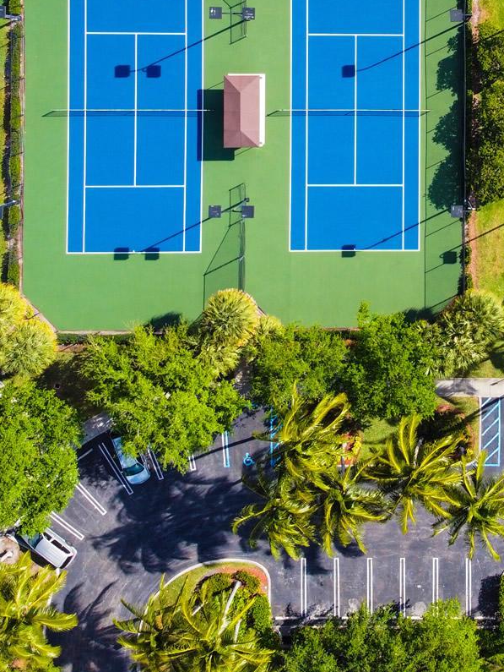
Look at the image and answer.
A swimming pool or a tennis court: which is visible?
tennis court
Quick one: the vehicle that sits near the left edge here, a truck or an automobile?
automobile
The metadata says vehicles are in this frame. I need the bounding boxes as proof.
[103,434,149,488]
[14,520,75,571]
